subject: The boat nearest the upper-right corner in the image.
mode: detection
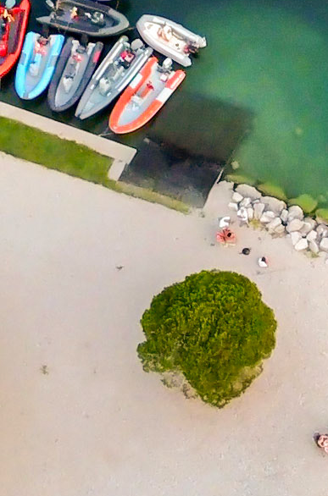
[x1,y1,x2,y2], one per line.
[135,15,207,64]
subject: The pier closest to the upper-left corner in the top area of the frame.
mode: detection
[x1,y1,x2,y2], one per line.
[0,102,138,180]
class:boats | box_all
[19,30,64,100]
[0,0,29,77]
[40,0,130,33]
[75,37,152,119]
[109,58,183,132]
[48,38,103,110]
[135,15,207,64]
